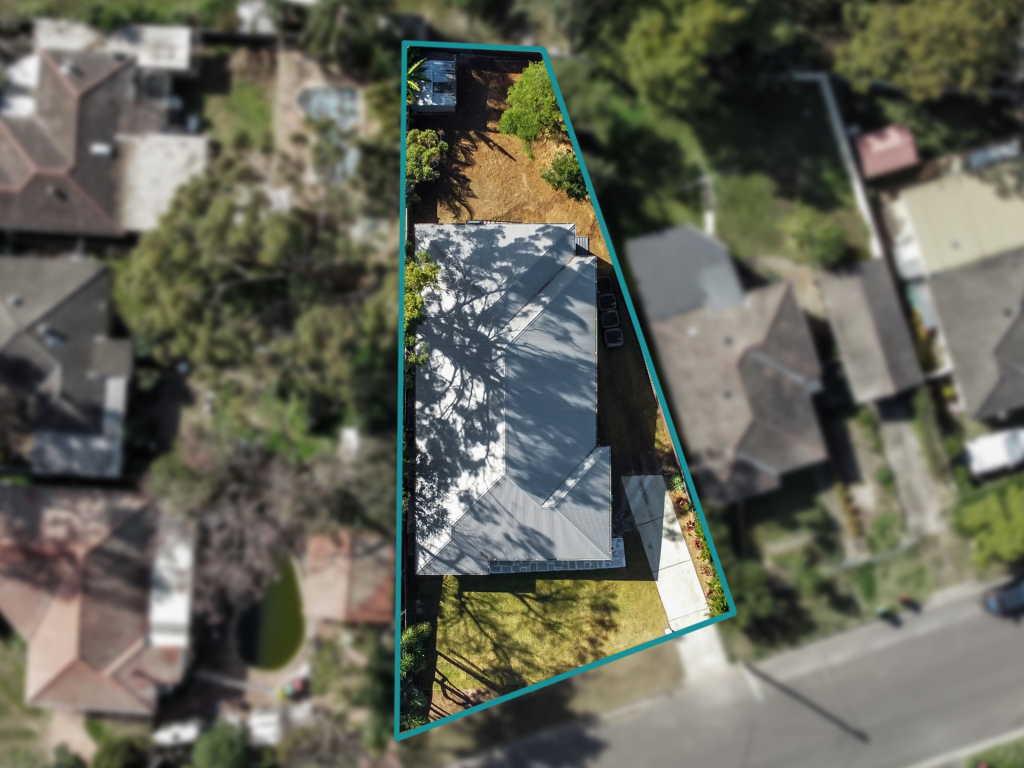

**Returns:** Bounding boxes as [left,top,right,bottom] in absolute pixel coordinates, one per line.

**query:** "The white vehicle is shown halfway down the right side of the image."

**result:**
[954,429,1024,475]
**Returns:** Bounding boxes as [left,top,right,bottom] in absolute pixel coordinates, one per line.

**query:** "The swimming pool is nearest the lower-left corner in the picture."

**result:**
[230,548,308,673]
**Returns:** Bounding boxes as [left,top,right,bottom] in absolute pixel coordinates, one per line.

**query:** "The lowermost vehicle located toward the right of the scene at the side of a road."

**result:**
[979,577,1024,616]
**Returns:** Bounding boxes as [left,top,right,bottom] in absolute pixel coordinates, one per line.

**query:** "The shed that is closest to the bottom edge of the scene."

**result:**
[252,700,291,751]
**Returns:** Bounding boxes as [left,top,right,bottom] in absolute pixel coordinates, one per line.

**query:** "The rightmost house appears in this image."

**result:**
[928,246,1024,420]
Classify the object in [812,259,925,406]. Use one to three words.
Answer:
building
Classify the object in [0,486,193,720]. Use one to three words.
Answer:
house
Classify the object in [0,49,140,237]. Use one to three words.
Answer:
house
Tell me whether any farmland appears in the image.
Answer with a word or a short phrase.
No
